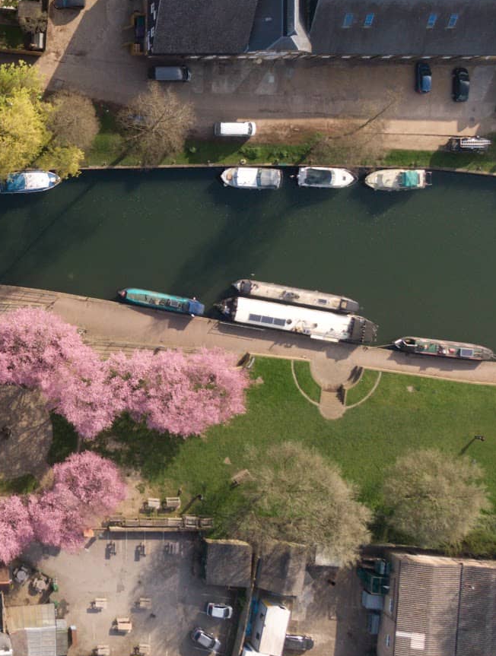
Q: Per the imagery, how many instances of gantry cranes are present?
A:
0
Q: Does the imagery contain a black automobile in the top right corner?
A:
Yes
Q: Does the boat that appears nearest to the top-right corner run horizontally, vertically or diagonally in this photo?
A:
horizontally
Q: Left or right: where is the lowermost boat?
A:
right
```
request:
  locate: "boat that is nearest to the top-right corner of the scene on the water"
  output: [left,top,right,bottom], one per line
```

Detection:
[362,169,432,191]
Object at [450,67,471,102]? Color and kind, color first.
black car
